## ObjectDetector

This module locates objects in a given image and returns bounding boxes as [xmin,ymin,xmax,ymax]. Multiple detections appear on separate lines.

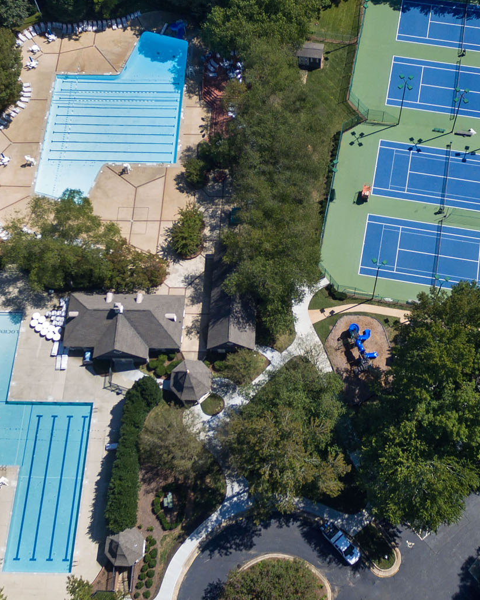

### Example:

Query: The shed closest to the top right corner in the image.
[297,45,326,69]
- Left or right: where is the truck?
right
